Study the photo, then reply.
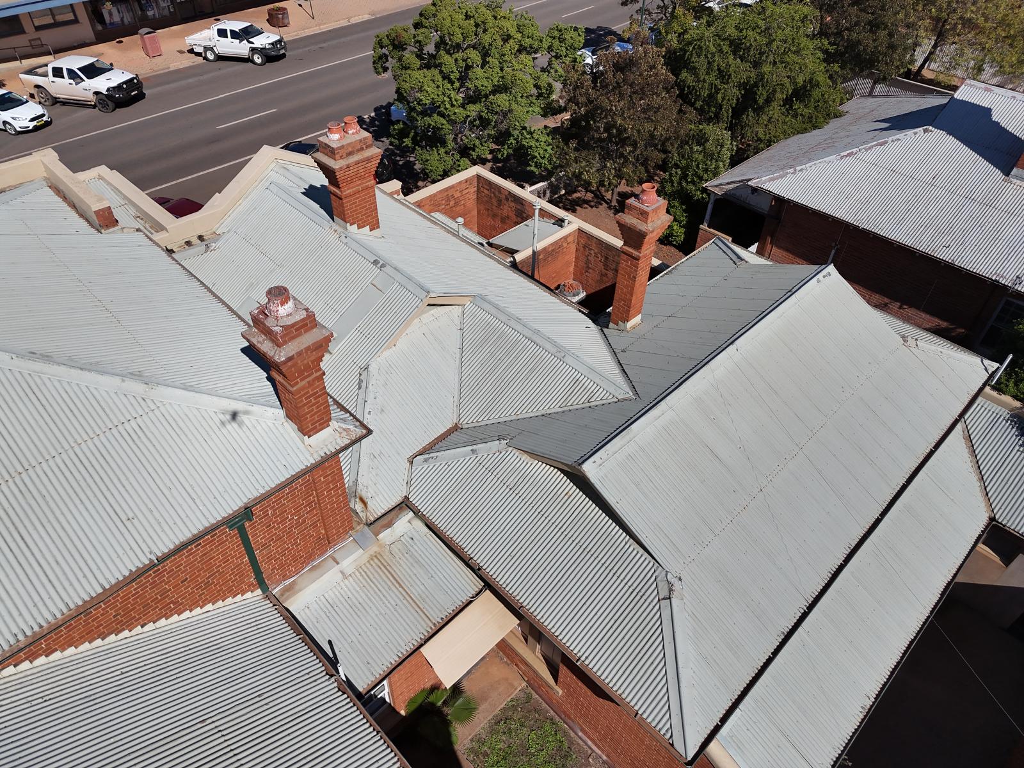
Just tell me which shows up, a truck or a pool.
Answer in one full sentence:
The image shows a truck.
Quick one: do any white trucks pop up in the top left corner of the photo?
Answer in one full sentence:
Yes, there is a white truck in the top left corner of the photo.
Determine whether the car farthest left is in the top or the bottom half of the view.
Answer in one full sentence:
Seen from above, the car farthest left lies in the top half of the view.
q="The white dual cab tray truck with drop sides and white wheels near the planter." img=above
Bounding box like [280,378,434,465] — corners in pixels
[184,23,281,65]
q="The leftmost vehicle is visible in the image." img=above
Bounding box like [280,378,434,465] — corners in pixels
[0,89,51,130]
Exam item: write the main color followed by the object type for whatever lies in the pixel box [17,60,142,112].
white truck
